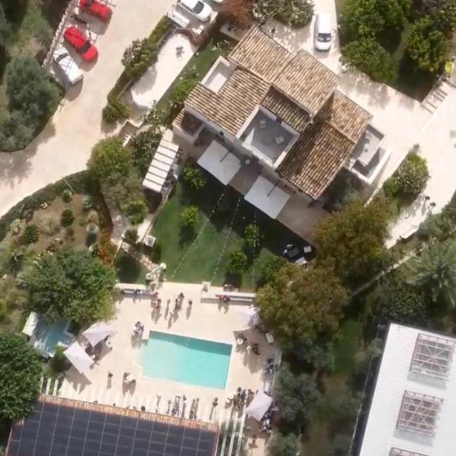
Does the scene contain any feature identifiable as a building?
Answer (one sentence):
Yes, the photo shows a building.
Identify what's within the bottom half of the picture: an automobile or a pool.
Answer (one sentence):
You can see a pool within the bottom half of the picture.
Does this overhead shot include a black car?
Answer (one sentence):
No, no black car is visible in the scene.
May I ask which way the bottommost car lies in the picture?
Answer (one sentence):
The bottommost car has been laid out at an angle relative to the frame.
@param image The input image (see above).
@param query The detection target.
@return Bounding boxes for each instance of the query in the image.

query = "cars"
[212,0,231,7]
[64,27,98,61]
[313,11,334,53]
[50,49,85,87]
[78,0,114,23]
[176,0,214,25]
